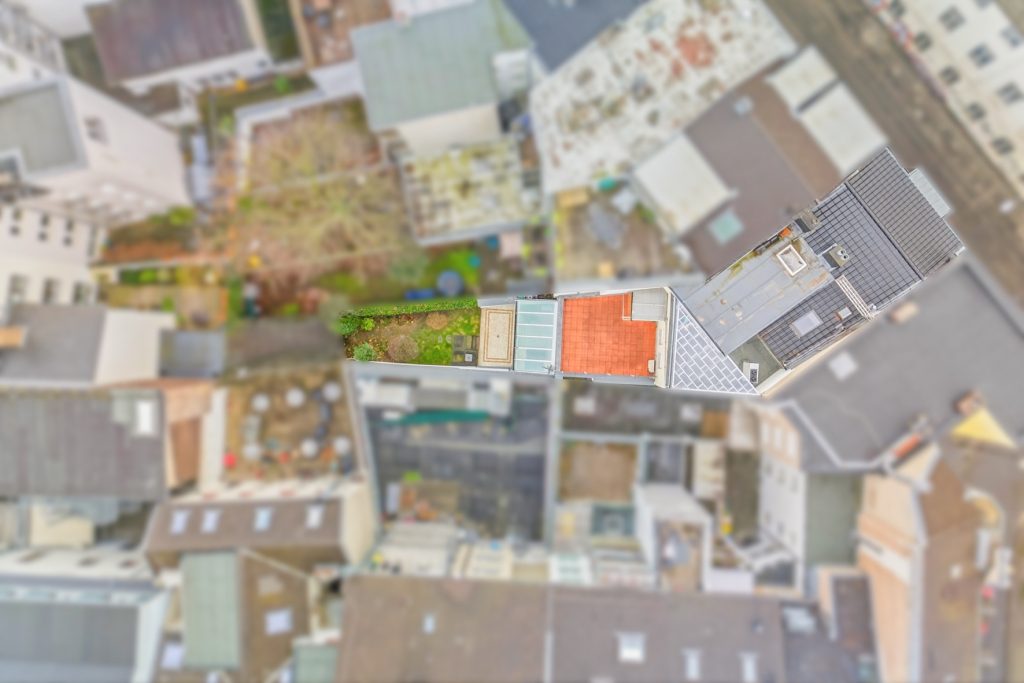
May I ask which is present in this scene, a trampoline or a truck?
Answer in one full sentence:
Of the two, only a trampoline appears.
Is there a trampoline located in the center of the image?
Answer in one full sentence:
Yes, there is a trampoline in the center of the image.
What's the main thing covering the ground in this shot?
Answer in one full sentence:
The largest share of the image is taken up by buildings.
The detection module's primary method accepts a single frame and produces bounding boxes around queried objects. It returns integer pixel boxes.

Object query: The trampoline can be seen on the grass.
[436,271,462,297]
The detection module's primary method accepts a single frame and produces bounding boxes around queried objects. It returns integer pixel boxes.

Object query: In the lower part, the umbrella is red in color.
[225,451,245,466]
